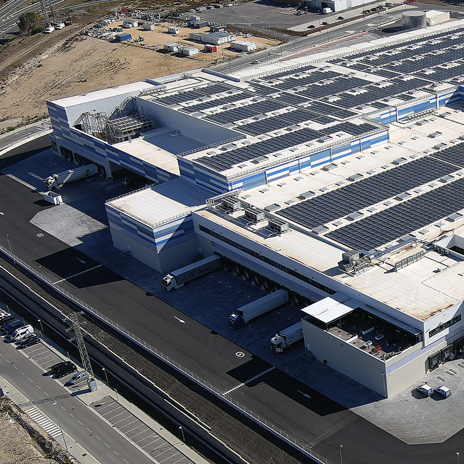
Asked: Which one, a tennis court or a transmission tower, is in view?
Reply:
transmission tower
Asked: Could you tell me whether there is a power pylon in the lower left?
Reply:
Yes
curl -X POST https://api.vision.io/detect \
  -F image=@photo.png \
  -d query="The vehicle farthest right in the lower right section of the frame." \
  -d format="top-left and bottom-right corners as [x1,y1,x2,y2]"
[435,386,454,399]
